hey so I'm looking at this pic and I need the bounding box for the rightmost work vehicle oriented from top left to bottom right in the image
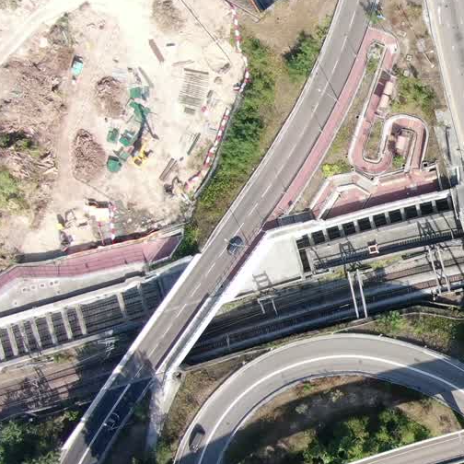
[153,170,184,196]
